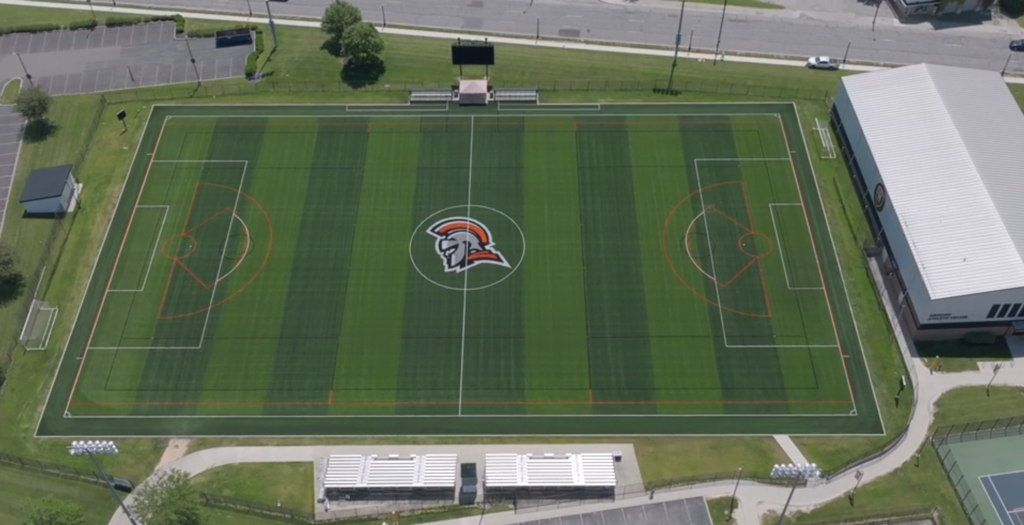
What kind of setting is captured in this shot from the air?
sports ground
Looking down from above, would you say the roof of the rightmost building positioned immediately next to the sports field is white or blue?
white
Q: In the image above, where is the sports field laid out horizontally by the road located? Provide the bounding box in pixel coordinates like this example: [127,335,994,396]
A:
[37,102,884,435]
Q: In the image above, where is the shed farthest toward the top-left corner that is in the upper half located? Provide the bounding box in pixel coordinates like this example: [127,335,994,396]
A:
[19,168,77,212]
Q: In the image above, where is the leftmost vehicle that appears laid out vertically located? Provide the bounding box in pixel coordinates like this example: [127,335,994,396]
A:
[459,462,478,503]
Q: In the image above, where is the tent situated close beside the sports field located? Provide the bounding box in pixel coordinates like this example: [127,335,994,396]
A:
[459,77,488,104]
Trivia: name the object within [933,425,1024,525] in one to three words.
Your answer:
tennis court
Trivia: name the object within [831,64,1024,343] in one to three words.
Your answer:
building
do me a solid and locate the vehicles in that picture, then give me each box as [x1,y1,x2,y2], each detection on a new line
[807,54,840,69]
[459,462,478,503]
[1013,38,1024,49]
